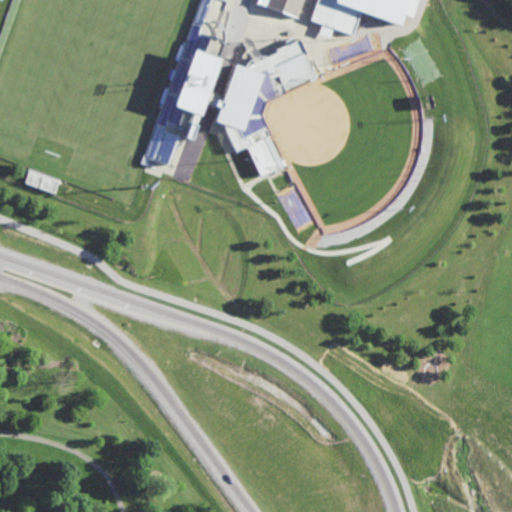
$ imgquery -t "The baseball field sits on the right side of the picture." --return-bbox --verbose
[263,47,422,247]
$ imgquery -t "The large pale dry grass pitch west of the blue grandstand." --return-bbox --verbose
[0,0,191,205]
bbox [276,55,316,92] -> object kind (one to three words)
building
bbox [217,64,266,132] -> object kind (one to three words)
building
